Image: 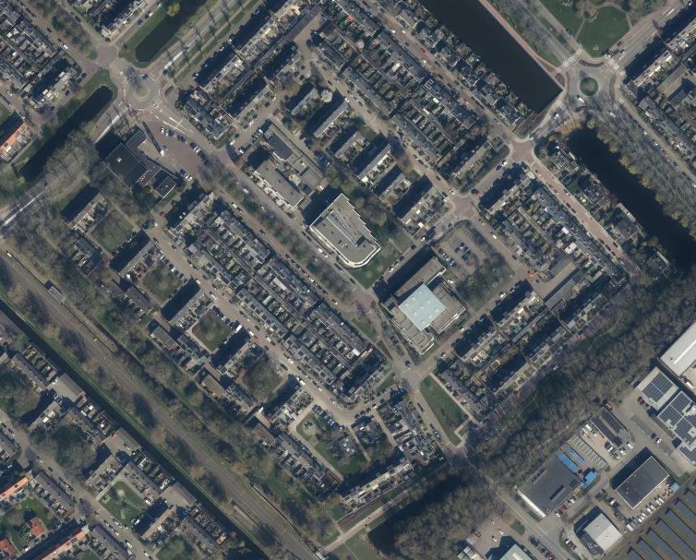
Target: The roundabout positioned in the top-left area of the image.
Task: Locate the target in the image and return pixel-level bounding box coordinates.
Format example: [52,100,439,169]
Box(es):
[120,70,162,112]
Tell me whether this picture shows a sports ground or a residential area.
residential area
